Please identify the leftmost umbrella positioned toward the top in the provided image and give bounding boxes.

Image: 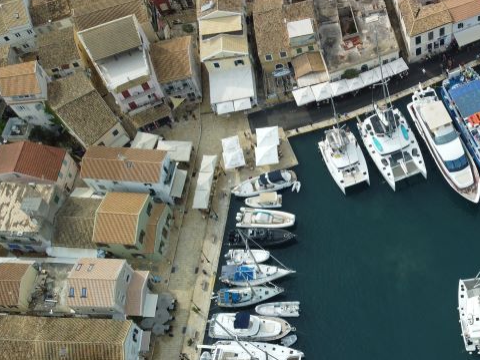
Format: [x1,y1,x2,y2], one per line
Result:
[131,133,160,149]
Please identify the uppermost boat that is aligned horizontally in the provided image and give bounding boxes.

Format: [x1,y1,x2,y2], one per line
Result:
[231,169,301,194]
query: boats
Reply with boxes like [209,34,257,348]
[189,313,301,344]
[398,81,480,215]
[225,227,295,245]
[212,267,285,306]
[457,273,480,354]
[293,178,302,192]
[231,169,301,194]
[185,317,304,360]
[257,302,304,316]
[359,34,426,194]
[235,211,296,228]
[320,96,371,203]
[246,192,284,210]
[281,336,297,348]
[214,232,306,287]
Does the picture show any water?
Yes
